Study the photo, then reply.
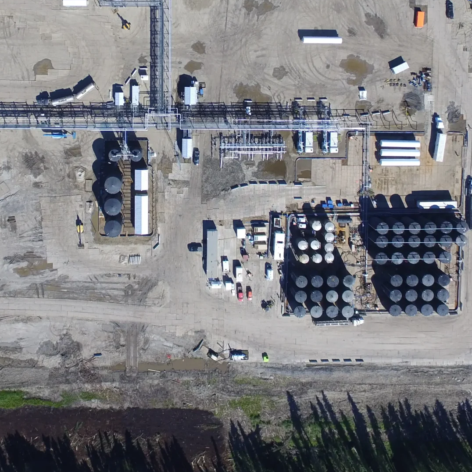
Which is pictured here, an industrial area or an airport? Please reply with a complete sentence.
The area seen from above is an industrial area.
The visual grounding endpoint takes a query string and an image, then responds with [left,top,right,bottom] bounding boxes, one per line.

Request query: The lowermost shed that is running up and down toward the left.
[134,192,148,236]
